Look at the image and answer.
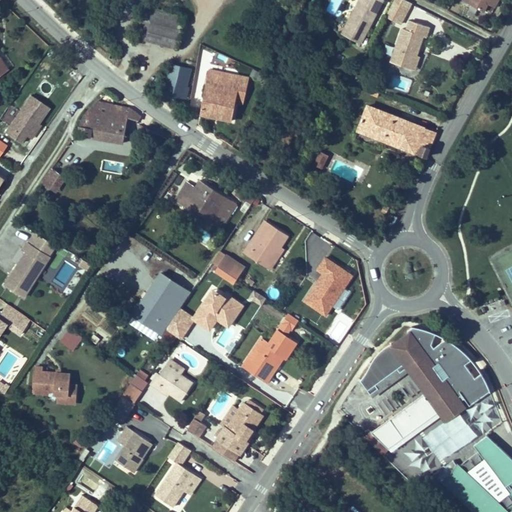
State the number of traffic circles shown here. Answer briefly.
1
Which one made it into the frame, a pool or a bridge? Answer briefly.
pool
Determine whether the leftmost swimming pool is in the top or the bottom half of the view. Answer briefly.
bottom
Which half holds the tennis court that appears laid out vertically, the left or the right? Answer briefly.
right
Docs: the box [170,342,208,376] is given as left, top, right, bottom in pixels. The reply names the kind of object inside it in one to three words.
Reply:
swimming pool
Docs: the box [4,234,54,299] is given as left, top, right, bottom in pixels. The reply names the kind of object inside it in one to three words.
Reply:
house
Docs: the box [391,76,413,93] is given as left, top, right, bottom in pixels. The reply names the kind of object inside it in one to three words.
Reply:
swimming pool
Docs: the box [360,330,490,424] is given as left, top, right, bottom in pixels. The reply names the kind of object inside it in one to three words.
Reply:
building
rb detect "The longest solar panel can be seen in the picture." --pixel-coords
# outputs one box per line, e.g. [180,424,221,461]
[20,262,44,291]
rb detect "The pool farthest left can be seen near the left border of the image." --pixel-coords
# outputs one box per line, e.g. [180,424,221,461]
[0,346,27,383]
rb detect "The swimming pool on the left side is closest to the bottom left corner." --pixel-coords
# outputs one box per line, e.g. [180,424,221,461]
[93,436,120,468]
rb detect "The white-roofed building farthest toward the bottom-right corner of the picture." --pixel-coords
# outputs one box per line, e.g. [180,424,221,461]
[469,460,509,502]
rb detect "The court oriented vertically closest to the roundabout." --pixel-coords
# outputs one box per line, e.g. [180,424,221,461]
[488,244,512,298]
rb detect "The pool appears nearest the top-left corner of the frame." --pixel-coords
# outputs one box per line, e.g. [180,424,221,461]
[100,159,124,174]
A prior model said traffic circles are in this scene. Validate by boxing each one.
[369,232,449,311]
